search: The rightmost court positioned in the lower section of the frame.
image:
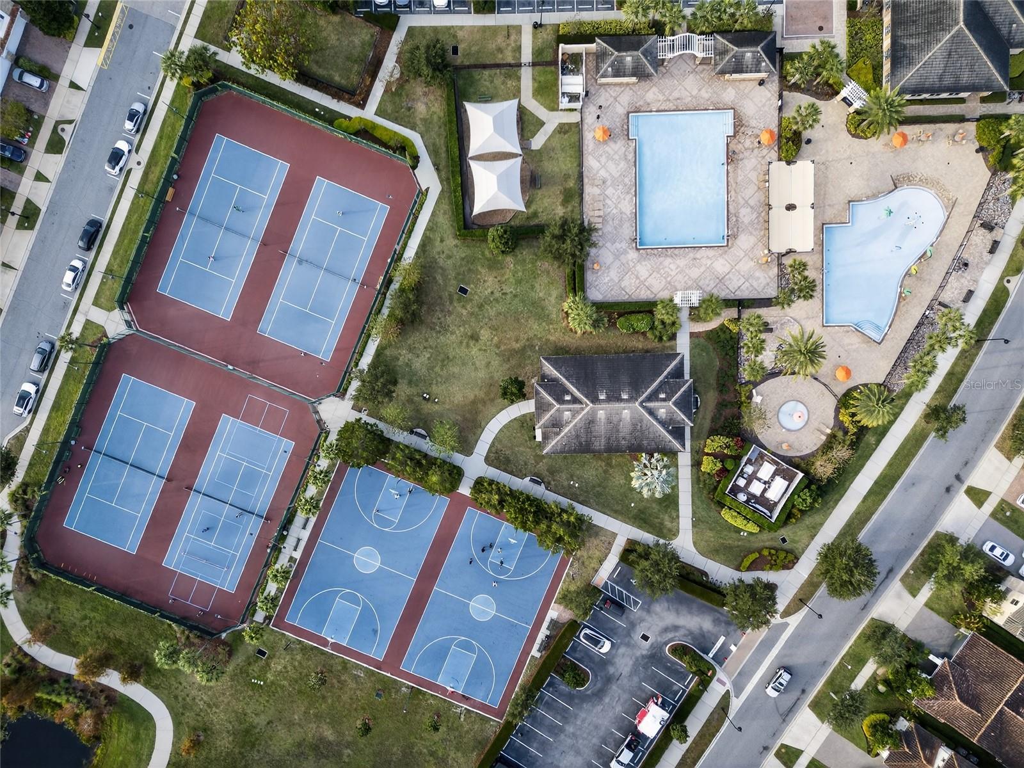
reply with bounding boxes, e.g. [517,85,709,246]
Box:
[388,494,574,721]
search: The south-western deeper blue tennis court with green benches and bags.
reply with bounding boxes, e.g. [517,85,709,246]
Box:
[36,332,225,597]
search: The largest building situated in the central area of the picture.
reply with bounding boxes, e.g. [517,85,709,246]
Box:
[534,353,702,454]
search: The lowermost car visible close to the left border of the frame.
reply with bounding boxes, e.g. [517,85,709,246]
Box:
[13,382,40,416]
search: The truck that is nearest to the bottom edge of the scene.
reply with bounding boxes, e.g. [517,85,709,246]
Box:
[608,736,640,768]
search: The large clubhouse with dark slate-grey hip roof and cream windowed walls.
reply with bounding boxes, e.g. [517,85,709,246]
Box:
[883,0,1024,97]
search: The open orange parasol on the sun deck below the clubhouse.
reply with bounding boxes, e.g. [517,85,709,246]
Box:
[890,131,908,148]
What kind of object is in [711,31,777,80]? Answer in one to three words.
building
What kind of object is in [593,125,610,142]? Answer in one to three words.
umbrella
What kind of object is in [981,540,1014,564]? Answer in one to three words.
car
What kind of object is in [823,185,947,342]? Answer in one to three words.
swimming pool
